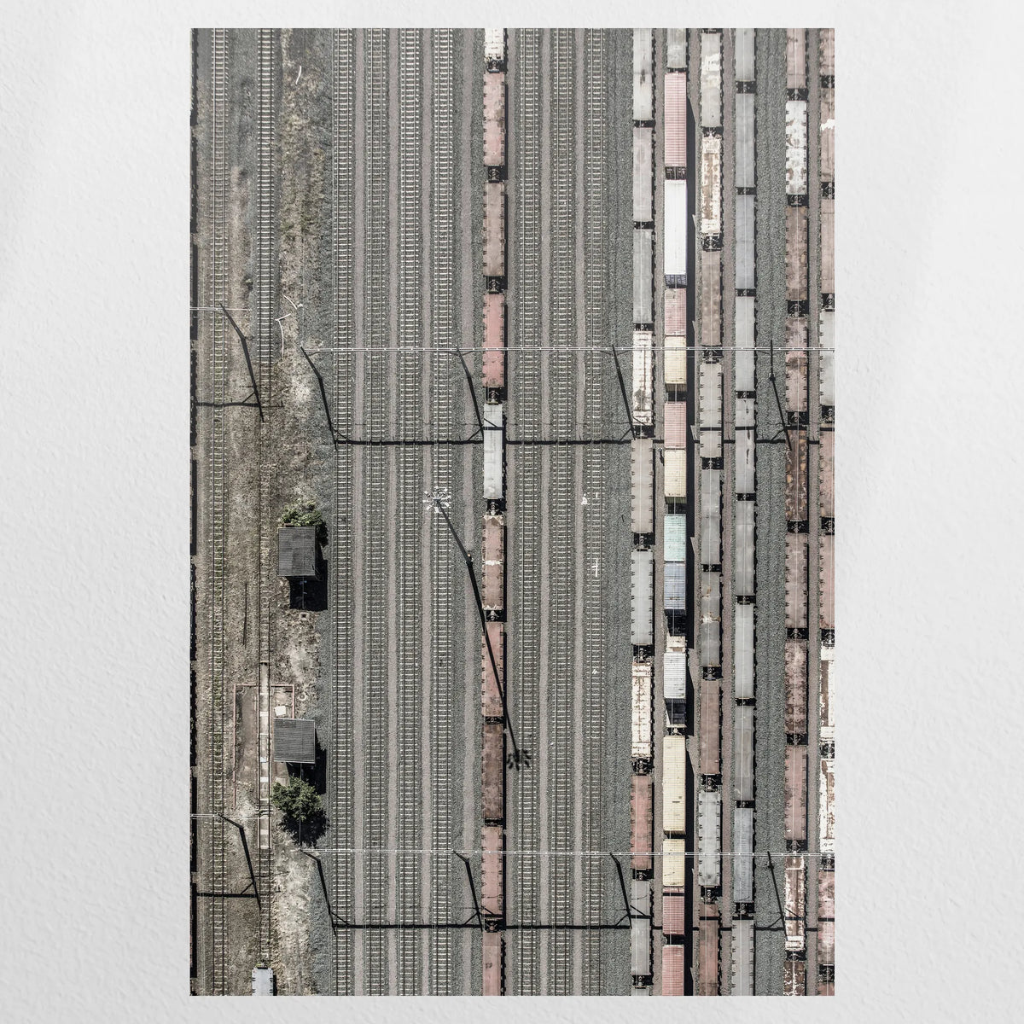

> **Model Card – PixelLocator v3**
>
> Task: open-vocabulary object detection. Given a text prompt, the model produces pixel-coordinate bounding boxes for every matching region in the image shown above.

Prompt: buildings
[273,718,319,765]
[278,527,319,581]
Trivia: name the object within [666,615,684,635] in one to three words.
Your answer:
rail car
